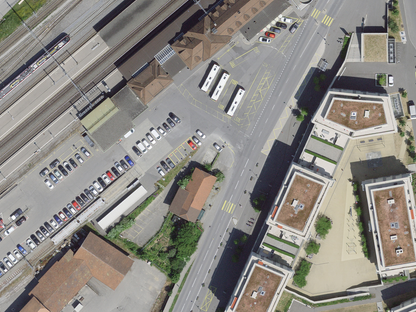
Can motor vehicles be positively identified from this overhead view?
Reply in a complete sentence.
Yes, the photo shows a motor vehicle.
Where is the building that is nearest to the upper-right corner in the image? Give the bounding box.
[361,32,388,62]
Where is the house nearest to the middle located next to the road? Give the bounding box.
[170,168,217,222]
